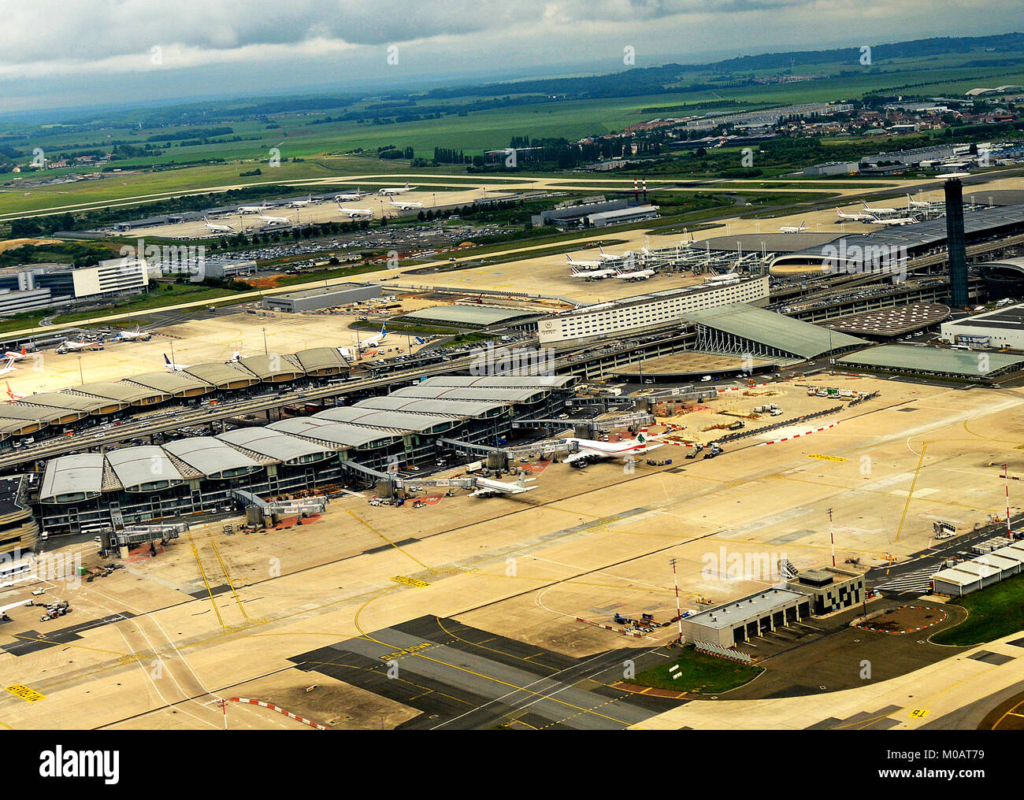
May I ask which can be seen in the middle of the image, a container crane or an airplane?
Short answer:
airplane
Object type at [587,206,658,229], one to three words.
shed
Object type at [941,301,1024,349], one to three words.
building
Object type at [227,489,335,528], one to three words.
jet bridge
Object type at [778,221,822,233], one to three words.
airplane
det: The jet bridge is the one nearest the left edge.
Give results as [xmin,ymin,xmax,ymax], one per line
[97,508,195,555]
